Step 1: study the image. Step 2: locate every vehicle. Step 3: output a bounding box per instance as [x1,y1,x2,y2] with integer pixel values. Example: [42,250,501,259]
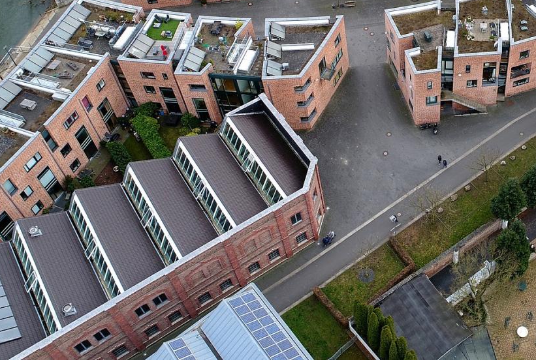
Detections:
[418,120,432,127]
[433,120,439,134]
